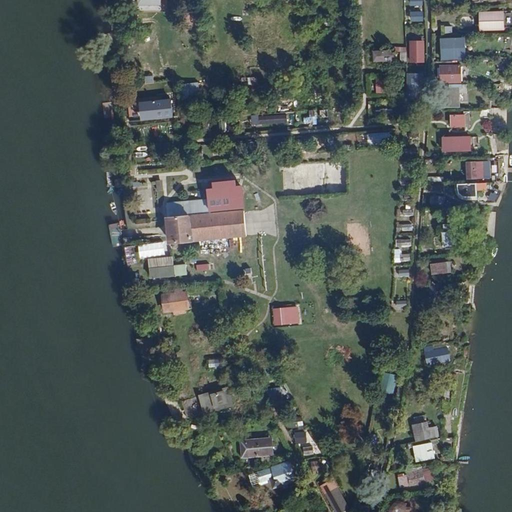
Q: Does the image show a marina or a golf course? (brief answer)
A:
marina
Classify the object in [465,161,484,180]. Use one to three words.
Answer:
house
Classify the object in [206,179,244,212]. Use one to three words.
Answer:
building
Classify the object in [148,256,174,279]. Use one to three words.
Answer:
shed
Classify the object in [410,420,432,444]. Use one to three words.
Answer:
house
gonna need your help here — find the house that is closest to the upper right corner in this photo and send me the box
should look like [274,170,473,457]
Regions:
[478,11,506,32]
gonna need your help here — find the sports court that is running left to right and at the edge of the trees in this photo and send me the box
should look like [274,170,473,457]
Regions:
[282,163,347,196]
